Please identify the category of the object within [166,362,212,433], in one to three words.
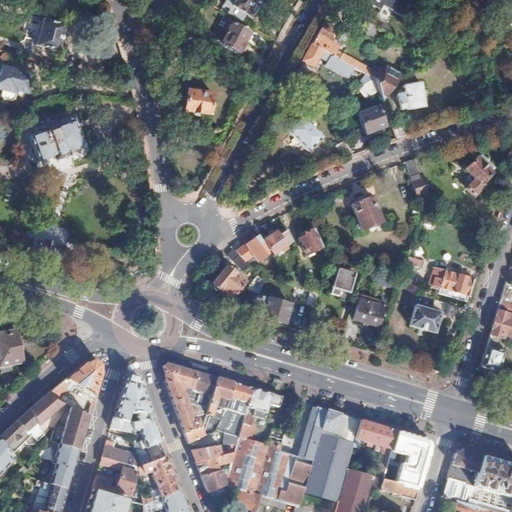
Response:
building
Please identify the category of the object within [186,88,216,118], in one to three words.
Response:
house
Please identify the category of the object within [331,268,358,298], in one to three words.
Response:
house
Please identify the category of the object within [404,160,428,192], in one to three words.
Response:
building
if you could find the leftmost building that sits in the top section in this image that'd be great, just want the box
[0,66,32,102]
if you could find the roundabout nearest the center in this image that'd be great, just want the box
[167,214,208,255]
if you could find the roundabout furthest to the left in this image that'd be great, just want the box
[111,283,185,360]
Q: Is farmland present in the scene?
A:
No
